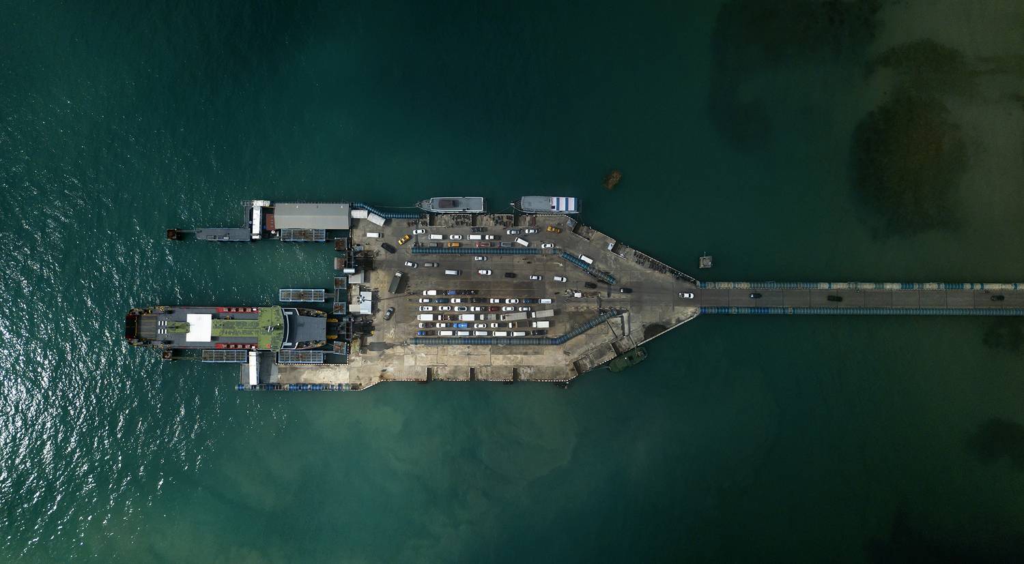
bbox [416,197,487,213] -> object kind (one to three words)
boat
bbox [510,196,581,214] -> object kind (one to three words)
boat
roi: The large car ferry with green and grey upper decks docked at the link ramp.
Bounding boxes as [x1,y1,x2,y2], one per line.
[126,306,328,351]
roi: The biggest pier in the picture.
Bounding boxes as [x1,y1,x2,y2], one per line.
[241,204,702,390]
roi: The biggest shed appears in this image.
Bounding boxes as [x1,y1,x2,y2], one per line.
[273,200,351,229]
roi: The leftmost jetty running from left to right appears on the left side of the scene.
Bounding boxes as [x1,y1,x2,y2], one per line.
[196,228,252,241]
